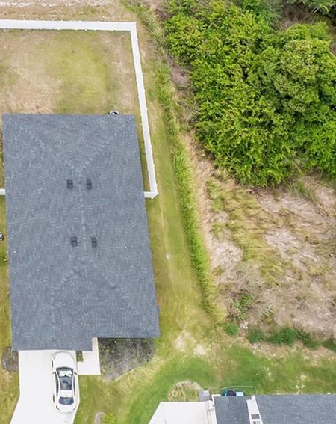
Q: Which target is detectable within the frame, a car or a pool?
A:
car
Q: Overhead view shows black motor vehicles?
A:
No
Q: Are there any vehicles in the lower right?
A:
No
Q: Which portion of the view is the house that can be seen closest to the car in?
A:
left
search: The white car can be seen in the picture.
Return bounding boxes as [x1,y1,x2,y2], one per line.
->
[51,350,79,413]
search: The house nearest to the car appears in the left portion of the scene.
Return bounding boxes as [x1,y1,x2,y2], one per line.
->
[0,113,161,352]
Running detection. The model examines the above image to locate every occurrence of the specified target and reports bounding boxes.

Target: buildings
[203,394,336,424]
[0,113,161,352]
